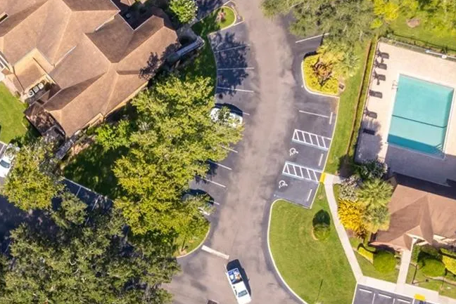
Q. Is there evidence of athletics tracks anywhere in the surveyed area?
No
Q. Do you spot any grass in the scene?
Yes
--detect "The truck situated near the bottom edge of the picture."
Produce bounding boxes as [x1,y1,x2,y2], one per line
[224,261,251,303]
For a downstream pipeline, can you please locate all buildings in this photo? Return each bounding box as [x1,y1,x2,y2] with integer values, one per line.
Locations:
[370,170,456,254]
[0,0,186,147]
